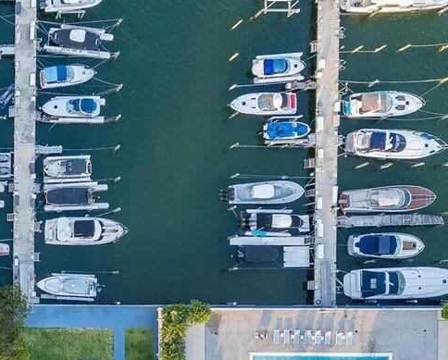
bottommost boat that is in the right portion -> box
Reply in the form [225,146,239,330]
[337,267,448,301]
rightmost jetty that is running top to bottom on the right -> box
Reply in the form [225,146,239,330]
[311,0,337,304]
